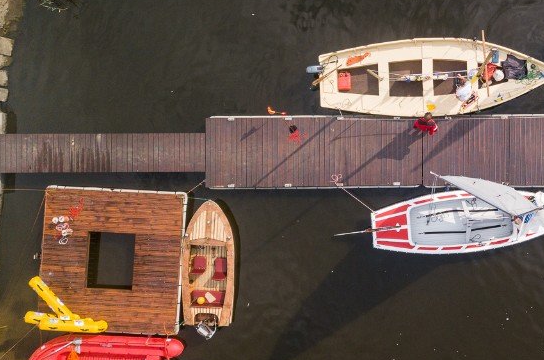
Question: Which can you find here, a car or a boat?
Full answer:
Visible in the photo is a boat.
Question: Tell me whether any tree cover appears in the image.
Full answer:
No, there is no tree cover in the image.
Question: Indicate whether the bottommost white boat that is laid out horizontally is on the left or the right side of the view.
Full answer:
The bottommost white boat that is laid out horizontally appears in the right half of the scene.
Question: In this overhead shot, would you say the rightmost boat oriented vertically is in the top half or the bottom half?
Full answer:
The rightmost boat oriented vertically is in the bottom half of the image.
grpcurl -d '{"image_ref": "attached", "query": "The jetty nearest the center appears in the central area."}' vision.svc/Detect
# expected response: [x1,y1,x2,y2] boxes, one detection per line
[206,114,422,191]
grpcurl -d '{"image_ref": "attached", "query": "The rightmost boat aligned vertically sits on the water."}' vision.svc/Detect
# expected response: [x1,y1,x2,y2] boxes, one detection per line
[183,200,237,339]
